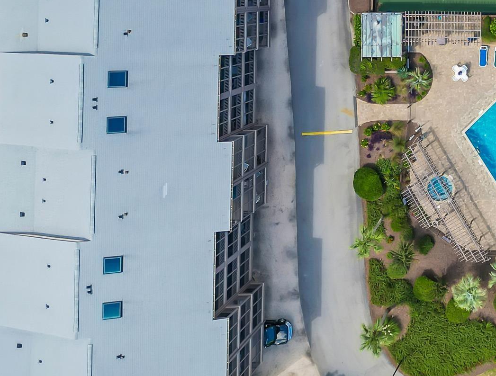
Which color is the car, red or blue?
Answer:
blue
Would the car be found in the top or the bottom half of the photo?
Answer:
bottom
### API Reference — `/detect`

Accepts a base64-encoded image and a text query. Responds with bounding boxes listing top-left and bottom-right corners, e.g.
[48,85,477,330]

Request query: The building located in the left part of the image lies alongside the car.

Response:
[0,0,275,376]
